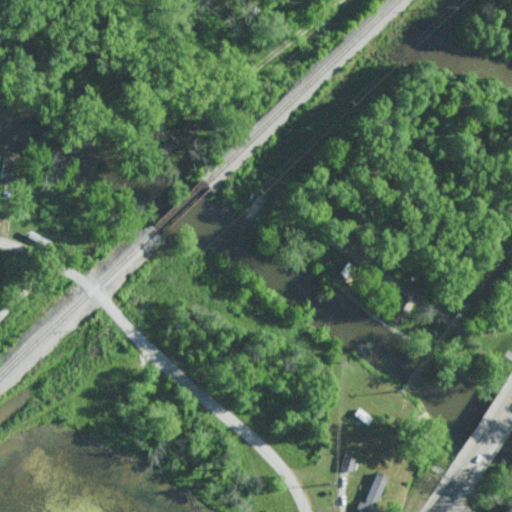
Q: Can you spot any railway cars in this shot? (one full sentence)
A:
No, this view has no railway car in it.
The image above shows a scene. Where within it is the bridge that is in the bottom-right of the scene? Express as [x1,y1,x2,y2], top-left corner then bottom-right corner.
[423,374,512,512]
